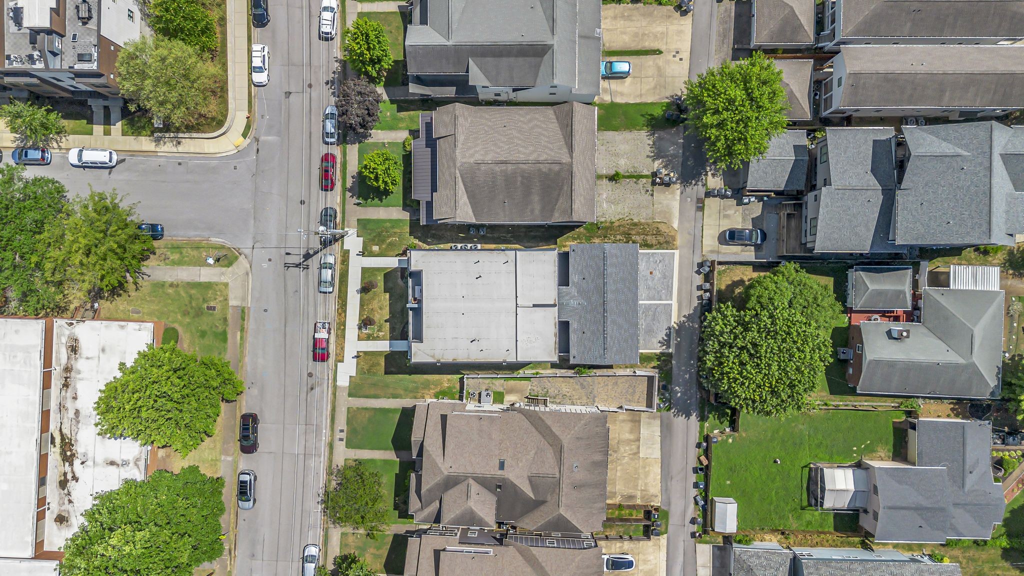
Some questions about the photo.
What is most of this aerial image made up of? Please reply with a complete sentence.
What you mostly see from above here is buildings.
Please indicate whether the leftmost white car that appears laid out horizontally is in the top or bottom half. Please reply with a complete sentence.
The leftmost white car that appears laid out horizontally sits in the top half of the picture.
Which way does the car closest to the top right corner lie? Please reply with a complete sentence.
In this picture, the car closest to the top right corner is oriented from side to side.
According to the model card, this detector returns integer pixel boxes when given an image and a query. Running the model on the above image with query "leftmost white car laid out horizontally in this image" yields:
[70,147,118,168]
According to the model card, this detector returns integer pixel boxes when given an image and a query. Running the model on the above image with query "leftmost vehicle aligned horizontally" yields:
[12,148,53,165]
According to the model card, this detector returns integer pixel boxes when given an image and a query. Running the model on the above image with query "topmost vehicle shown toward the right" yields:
[601,58,632,79]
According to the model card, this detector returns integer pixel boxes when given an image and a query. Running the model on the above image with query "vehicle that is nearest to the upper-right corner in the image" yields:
[722,226,765,246]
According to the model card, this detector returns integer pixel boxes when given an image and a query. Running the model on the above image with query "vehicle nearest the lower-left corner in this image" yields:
[238,470,257,510]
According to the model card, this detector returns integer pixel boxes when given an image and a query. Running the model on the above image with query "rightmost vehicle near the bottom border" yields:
[601,553,637,574]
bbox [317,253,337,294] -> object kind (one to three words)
car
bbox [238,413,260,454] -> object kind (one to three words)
car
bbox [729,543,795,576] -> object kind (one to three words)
building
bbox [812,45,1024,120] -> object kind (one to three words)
house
